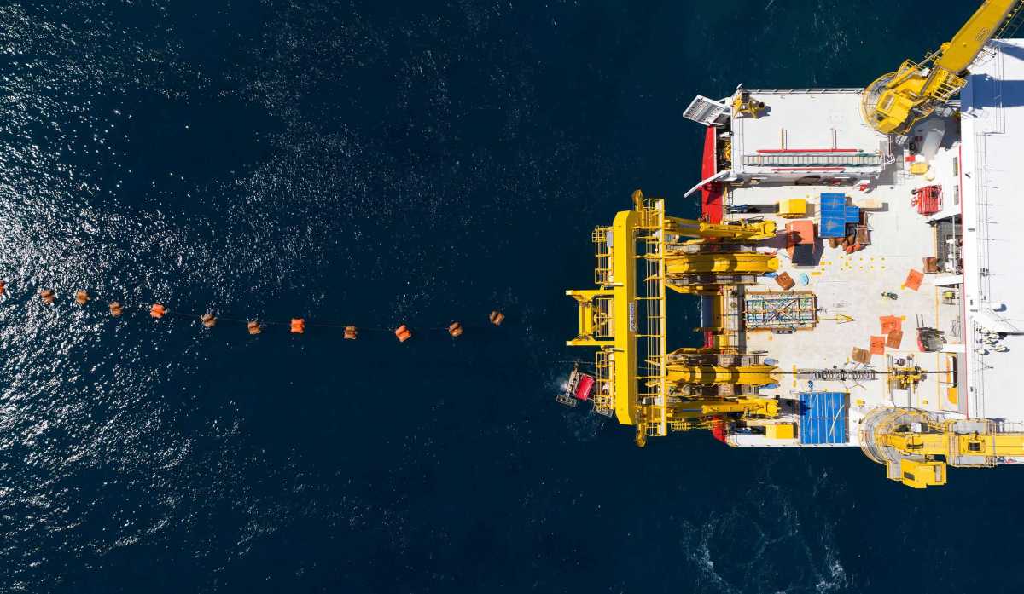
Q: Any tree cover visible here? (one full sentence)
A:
No, there's no tree cover in this view.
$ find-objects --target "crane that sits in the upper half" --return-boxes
[860,0,1024,137]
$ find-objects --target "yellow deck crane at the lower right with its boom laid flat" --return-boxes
[850,401,1024,489]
